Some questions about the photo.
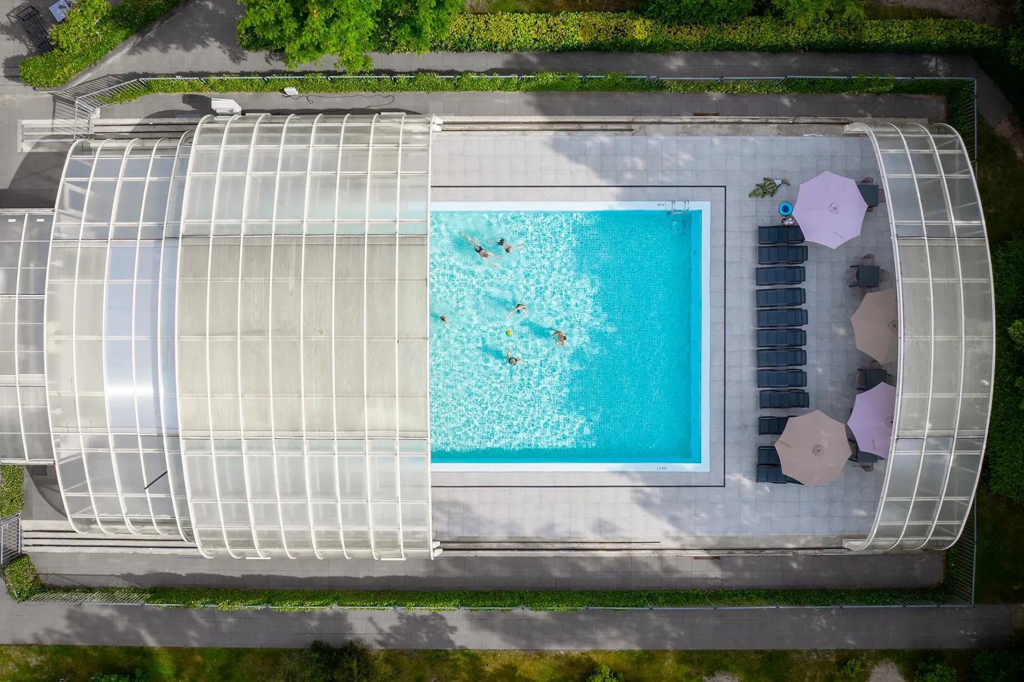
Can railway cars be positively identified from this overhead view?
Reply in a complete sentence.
No, the scene contains no railway car.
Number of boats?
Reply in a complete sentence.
The photo contains no boats.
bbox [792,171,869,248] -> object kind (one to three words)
umbrella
